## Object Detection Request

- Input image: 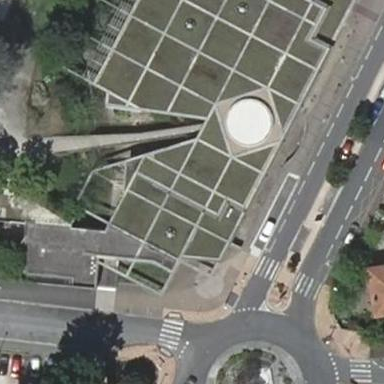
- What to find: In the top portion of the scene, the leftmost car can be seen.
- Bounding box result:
[340,136,354,158]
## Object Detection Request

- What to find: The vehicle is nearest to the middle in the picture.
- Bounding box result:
[258,220,275,242]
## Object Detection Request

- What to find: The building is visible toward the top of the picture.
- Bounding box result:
[73,0,356,293]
